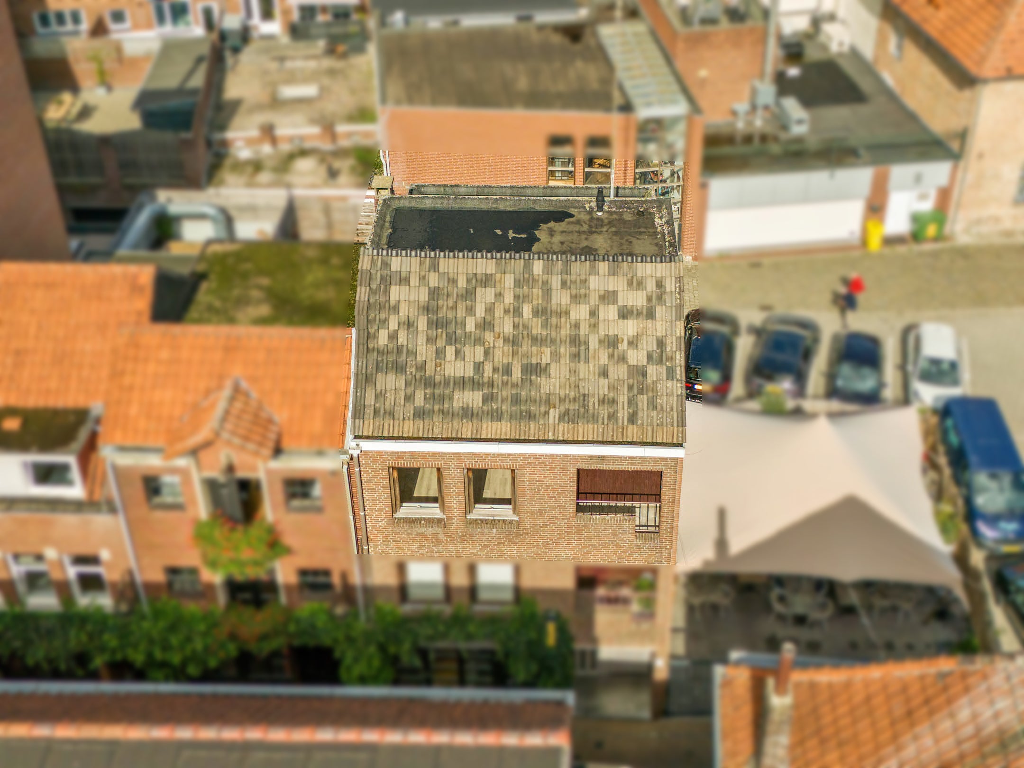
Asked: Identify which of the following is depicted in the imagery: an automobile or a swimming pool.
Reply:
automobile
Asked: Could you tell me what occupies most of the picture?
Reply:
buildings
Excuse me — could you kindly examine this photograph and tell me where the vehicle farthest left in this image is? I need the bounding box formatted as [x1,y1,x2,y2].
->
[685,322,749,404]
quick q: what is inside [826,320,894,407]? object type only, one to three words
car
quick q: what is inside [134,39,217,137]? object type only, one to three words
shed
